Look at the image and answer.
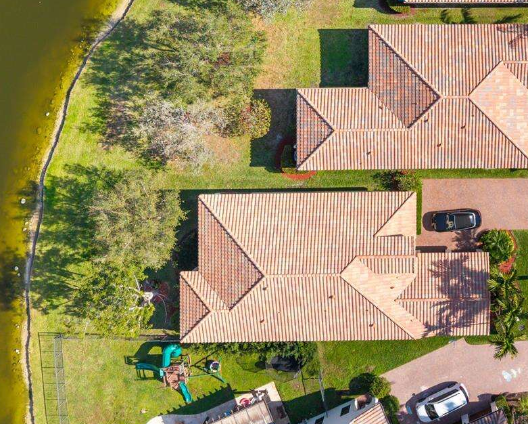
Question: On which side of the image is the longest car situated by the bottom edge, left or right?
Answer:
right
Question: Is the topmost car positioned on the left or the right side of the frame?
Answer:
right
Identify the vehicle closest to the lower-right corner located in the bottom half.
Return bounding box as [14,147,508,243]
[415,379,469,419]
